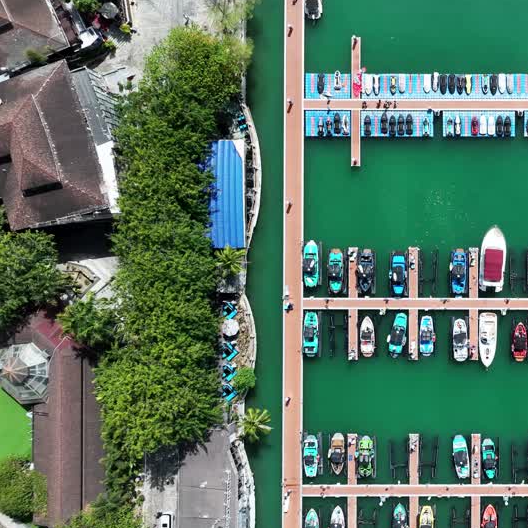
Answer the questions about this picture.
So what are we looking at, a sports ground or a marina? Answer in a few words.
marina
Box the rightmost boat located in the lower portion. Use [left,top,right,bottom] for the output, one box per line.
[511,323,528,361]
